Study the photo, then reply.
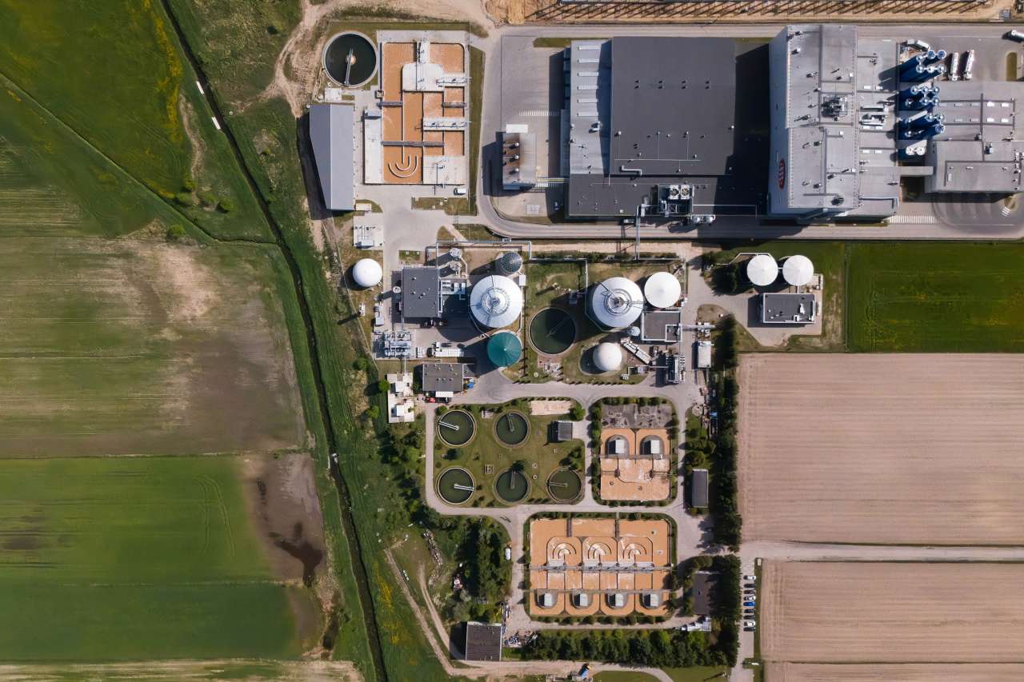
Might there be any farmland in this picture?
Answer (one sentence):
Yes, farmland shows up in the scene.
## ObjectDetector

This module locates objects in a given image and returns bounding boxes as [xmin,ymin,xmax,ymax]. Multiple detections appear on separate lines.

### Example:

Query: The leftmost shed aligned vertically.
[310,105,356,211]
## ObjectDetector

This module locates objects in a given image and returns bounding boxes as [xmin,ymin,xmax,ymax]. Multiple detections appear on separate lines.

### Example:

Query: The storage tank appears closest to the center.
[487,331,522,370]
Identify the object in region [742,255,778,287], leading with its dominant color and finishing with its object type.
white storage tank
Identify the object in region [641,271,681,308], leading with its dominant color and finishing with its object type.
white storage tank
